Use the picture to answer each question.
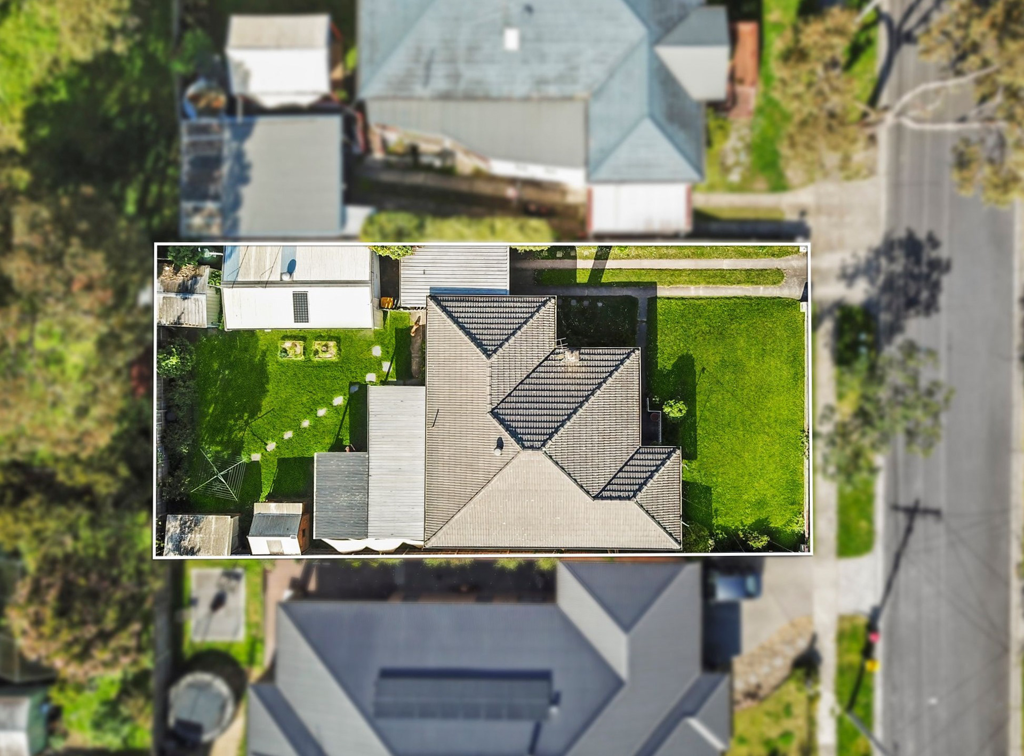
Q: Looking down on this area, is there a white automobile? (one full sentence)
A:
No, the picture doesn't show any white automobile.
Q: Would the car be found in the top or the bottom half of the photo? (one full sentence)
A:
It is in the bottom half that the car appears.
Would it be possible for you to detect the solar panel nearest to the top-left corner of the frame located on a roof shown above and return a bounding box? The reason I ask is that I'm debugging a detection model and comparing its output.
[295,292,310,323]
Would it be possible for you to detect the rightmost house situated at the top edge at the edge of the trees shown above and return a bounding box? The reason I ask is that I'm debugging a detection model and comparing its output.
[356,0,730,184]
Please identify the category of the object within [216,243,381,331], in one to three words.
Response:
shed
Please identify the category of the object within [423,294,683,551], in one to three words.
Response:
house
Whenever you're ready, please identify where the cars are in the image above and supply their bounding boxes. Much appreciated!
[704,565,761,605]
